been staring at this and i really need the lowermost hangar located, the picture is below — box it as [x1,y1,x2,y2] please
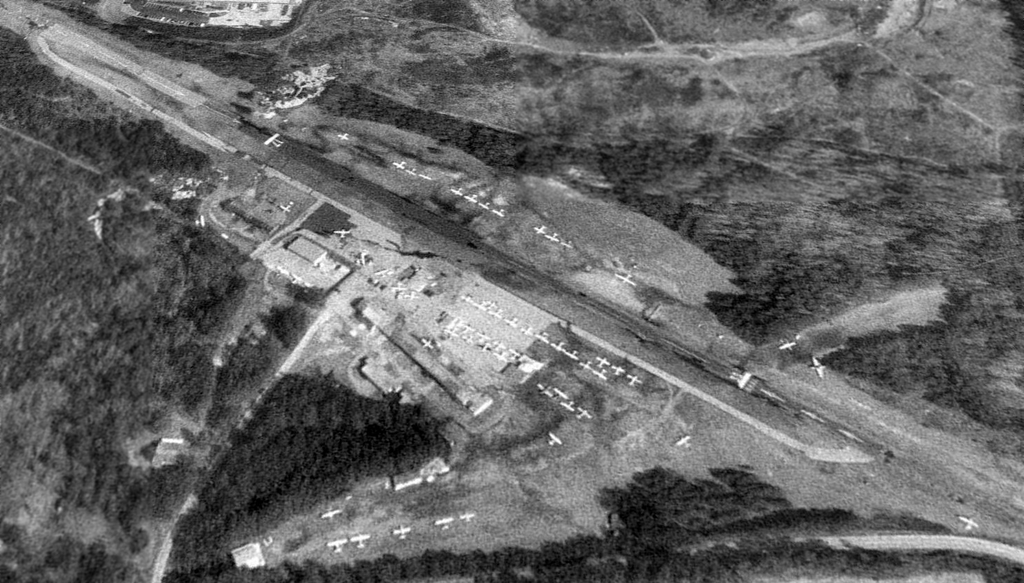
[234,544,265,572]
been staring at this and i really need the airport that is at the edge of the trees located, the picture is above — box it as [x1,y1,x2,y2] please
[33,31,883,462]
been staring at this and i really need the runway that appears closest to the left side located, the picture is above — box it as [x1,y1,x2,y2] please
[63,31,208,107]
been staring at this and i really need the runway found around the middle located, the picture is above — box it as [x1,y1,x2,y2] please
[192,97,883,461]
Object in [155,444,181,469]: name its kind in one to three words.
house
